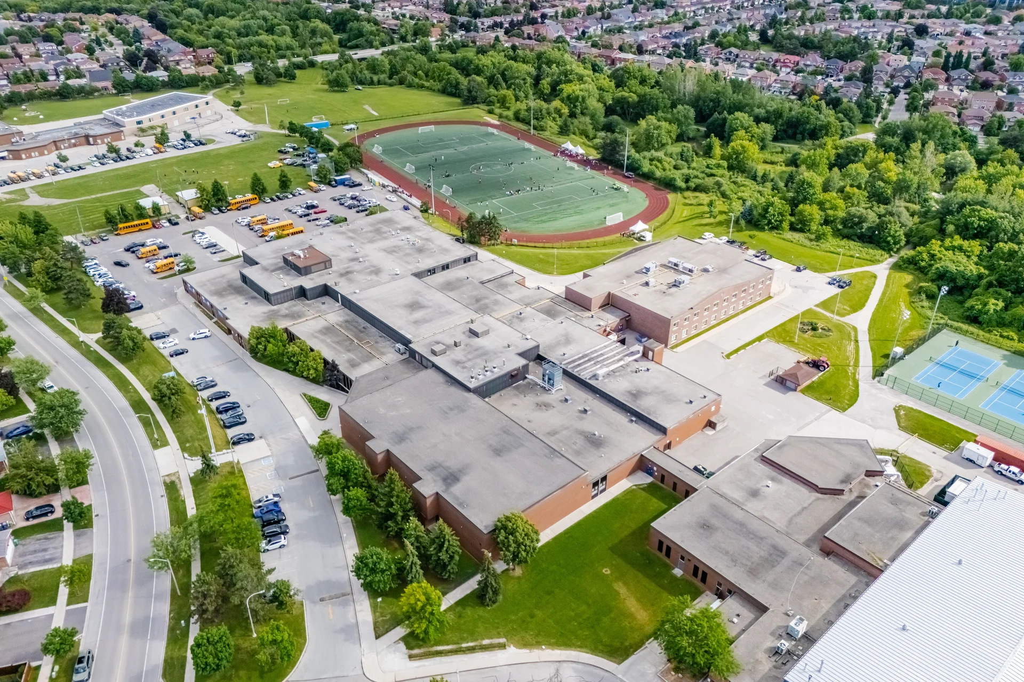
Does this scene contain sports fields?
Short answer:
Yes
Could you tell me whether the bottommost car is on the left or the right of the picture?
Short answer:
left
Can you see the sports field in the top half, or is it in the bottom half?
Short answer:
top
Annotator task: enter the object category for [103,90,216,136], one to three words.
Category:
building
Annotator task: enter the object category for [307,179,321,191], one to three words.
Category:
vehicle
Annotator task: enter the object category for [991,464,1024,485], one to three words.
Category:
truck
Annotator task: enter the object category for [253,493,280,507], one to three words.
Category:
car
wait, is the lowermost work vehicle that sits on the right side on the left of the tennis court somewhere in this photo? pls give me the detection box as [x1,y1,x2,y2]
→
[793,358,826,373]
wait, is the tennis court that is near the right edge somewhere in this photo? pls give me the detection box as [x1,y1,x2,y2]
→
[882,334,1024,438]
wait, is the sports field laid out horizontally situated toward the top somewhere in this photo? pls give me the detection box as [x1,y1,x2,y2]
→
[364,124,647,234]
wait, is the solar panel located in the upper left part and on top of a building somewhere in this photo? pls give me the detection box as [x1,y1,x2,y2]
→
[110,91,207,115]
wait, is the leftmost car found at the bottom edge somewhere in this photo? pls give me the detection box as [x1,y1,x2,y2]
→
[71,649,94,680]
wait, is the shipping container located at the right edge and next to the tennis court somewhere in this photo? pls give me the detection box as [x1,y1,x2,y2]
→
[976,432,1024,469]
